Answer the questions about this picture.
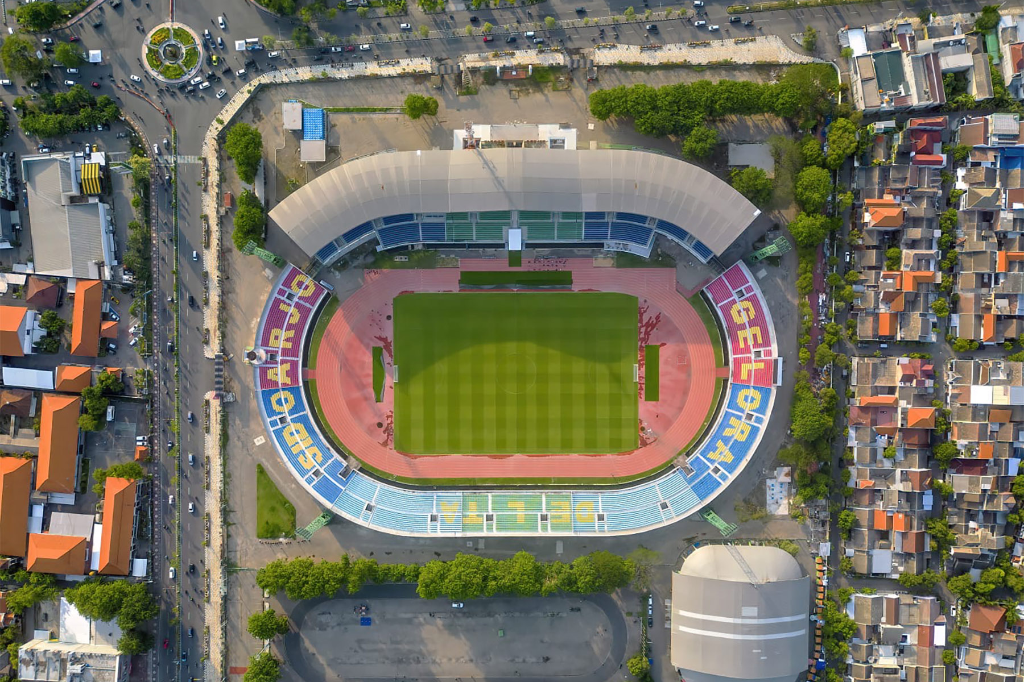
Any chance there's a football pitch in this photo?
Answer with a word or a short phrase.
Yes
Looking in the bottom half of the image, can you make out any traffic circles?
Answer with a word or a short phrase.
No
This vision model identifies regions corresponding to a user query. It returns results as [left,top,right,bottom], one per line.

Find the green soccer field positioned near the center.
[394,292,638,454]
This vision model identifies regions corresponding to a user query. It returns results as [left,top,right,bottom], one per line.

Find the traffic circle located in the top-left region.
[142,22,203,83]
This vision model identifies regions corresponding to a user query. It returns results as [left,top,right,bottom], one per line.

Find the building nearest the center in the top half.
[453,124,576,150]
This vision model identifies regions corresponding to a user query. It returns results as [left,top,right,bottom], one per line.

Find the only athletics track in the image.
[309,259,722,478]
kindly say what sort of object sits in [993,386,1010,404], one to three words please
house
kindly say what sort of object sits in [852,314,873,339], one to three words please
house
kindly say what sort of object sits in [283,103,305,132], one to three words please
shed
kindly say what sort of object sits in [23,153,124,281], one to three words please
building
